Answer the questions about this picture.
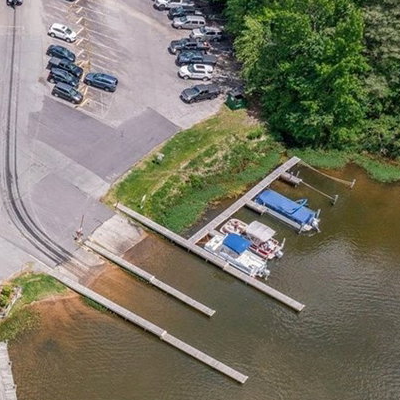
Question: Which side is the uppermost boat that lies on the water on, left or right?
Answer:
right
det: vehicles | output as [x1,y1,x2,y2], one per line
[46,21,79,42]
[166,4,208,20]
[45,64,81,87]
[44,55,86,78]
[154,0,195,10]
[178,80,225,102]
[49,79,86,104]
[177,63,216,81]
[82,70,121,92]
[44,44,77,60]
[167,36,212,54]
[171,13,208,31]
[189,24,226,40]
[174,49,221,67]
